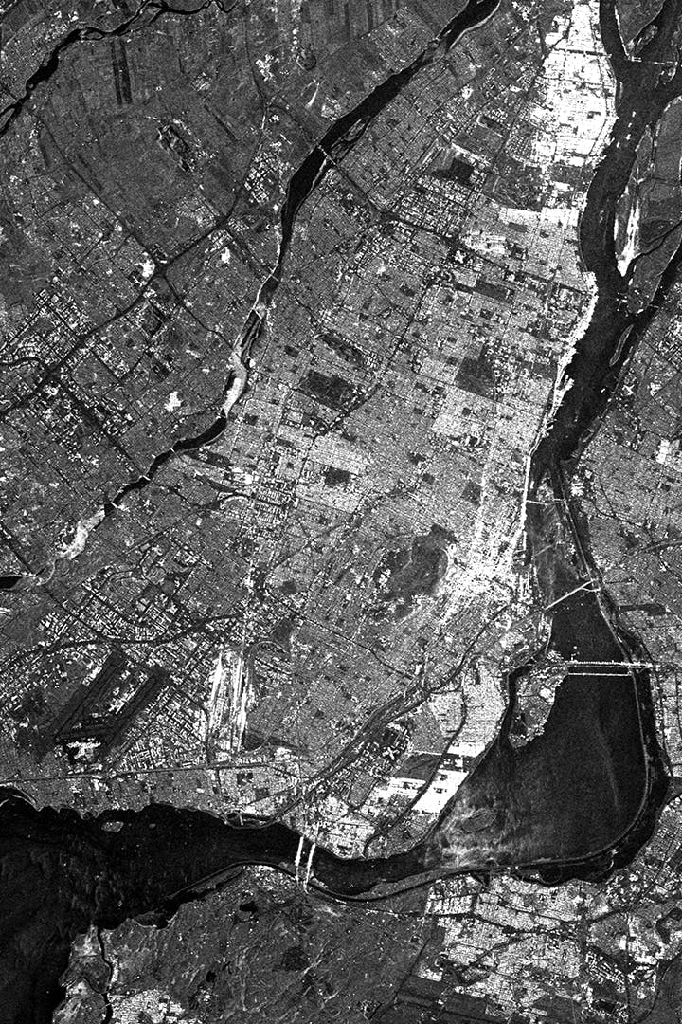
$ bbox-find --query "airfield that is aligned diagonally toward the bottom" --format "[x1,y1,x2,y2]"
[35,653,168,766]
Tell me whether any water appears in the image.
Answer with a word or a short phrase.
Yes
